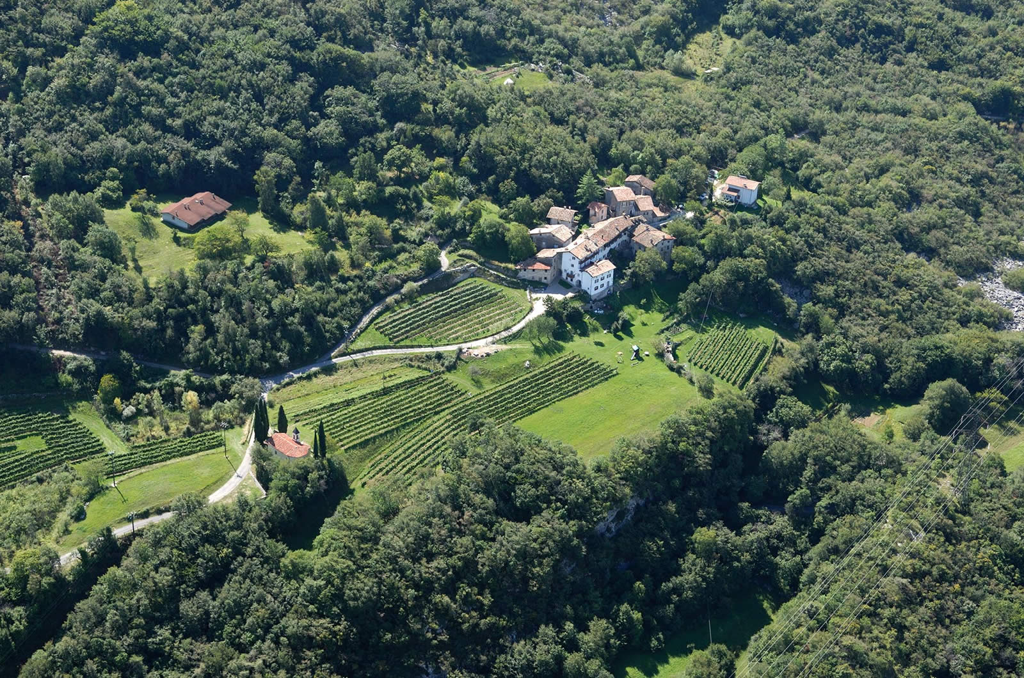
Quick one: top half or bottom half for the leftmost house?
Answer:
top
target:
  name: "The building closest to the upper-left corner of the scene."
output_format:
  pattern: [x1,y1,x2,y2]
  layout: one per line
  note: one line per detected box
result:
[162,192,232,230]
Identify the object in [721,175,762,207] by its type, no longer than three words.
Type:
house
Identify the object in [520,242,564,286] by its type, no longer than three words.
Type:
house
